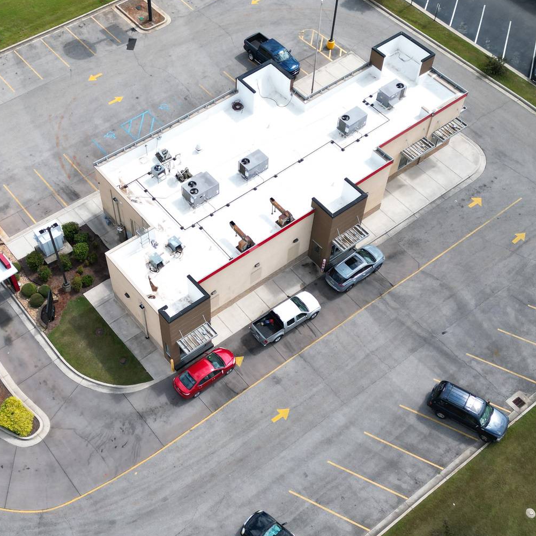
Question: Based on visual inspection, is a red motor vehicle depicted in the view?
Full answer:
Yes, the frame does contain a red motor vehicle.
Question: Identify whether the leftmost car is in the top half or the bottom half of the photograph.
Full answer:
The bottom half of the photo is where the leftmost car is.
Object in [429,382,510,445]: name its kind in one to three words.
car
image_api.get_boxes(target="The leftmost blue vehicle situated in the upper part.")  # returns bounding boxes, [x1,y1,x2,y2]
[241,31,297,74]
